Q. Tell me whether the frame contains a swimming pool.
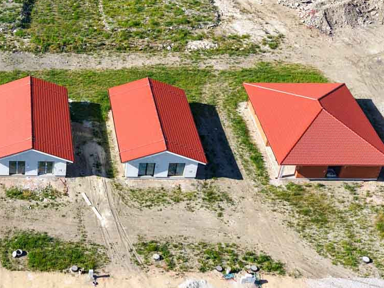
No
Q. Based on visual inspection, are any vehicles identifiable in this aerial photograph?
No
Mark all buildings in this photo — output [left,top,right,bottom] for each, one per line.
[243,82,384,179]
[0,75,74,177]
[108,75,207,178]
